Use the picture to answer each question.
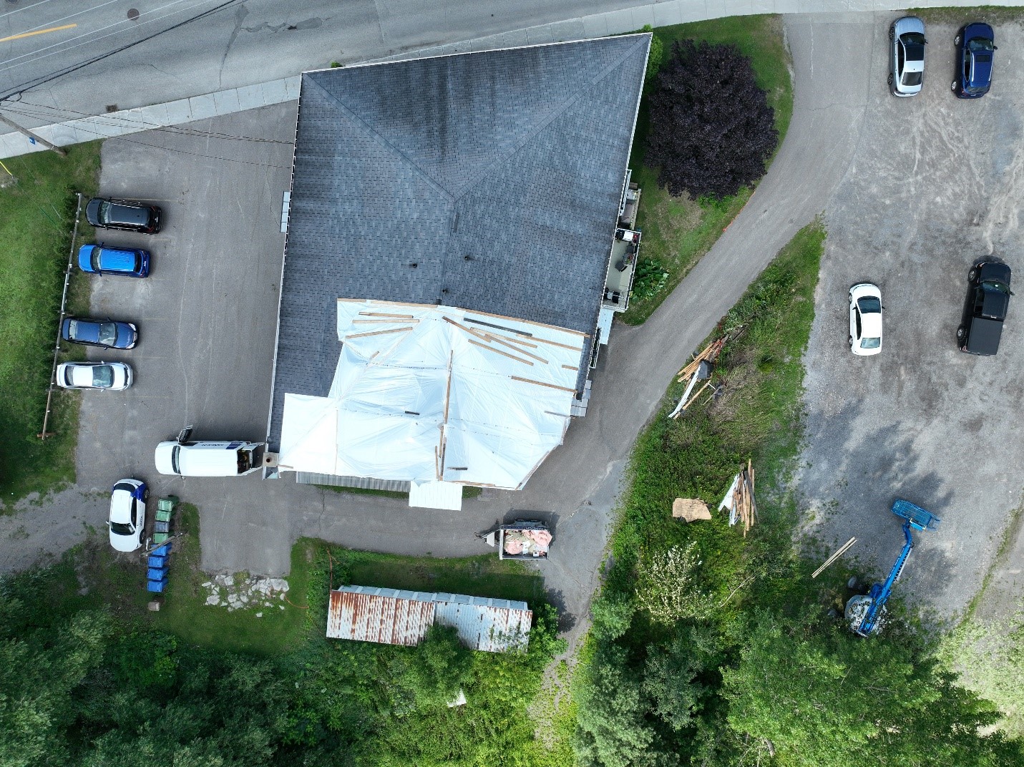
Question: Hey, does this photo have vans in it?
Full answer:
Yes, a van is visible in the scene.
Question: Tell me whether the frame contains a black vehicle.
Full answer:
Yes, you can see a black vehicle in this photo.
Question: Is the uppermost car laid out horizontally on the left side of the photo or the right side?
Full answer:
It is on the left.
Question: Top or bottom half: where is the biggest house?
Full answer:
The biggest house sits in the top half of the picture.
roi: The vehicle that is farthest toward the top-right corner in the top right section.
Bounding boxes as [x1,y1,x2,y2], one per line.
[954,23,1001,99]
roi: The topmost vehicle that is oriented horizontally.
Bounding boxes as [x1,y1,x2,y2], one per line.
[86,195,164,234]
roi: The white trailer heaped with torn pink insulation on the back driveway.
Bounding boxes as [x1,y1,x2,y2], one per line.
[473,521,549,564]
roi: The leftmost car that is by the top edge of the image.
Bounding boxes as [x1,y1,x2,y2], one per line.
[888,19,931,97]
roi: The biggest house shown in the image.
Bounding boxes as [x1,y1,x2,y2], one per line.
[263,30,654,487]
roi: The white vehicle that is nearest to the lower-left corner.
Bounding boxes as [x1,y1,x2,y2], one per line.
[105,478,149,551]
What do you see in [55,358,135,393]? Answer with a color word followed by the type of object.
white car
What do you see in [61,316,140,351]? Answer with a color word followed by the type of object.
blue car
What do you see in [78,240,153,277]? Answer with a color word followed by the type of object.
blue car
